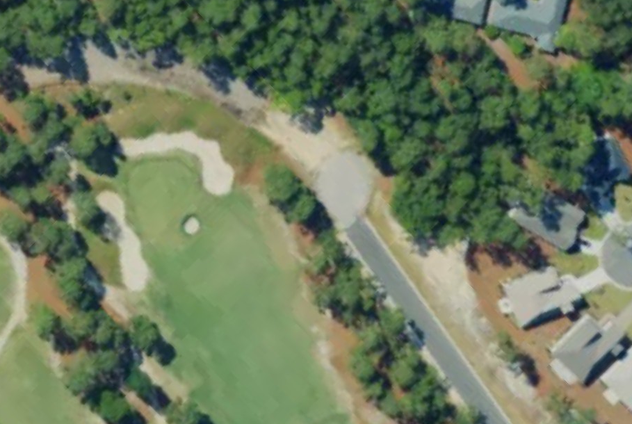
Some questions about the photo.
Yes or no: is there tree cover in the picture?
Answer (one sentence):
Yes, there's tree cover in this view.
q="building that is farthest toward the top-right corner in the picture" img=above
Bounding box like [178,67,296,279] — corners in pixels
[484,0,565,53]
